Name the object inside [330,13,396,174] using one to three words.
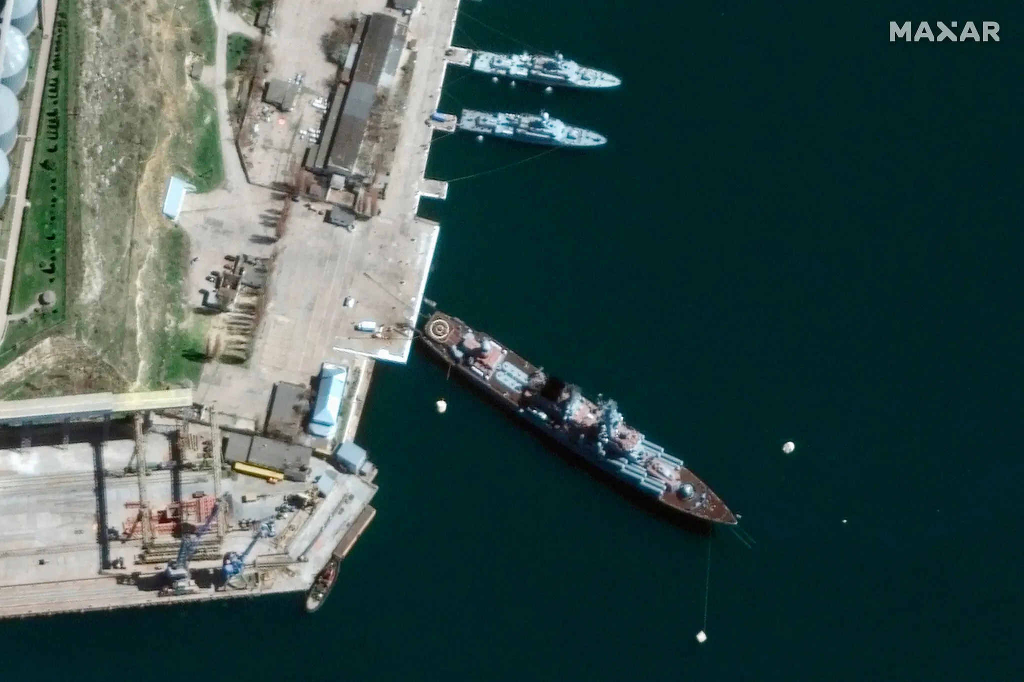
building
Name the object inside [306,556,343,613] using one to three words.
boat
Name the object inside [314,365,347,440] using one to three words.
building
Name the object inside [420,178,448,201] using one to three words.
pier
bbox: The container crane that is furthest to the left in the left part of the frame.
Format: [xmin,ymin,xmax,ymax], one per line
[122,411,159,552]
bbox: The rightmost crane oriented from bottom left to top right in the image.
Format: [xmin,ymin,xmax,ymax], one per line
[213,531,266,593]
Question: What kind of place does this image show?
port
